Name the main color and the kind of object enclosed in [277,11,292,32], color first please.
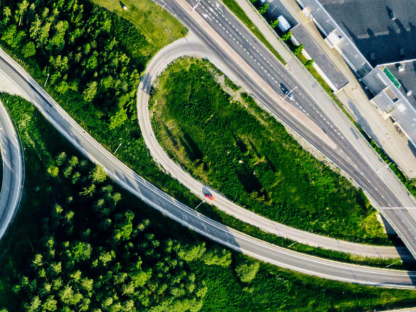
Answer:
white vehicle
